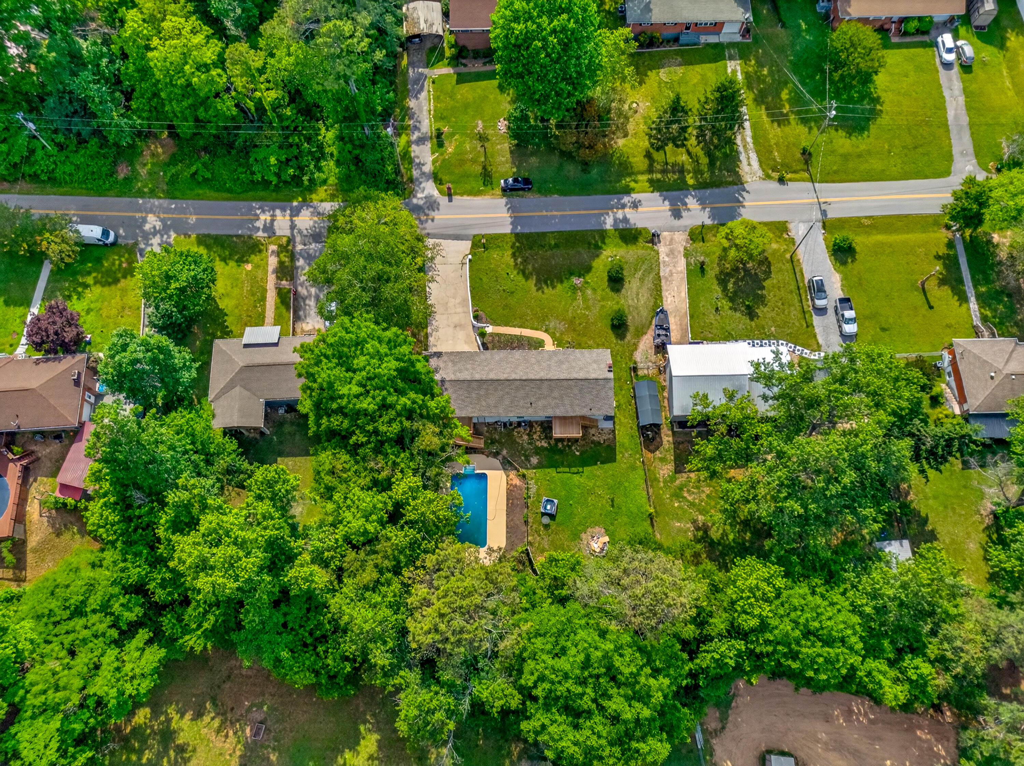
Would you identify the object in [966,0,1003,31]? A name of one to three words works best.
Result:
shed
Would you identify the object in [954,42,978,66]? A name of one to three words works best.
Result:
car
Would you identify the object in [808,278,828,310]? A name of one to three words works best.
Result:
car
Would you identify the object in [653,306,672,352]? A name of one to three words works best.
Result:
boat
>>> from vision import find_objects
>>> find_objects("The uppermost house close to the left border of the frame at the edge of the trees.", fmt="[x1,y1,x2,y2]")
[0,350,96,436]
